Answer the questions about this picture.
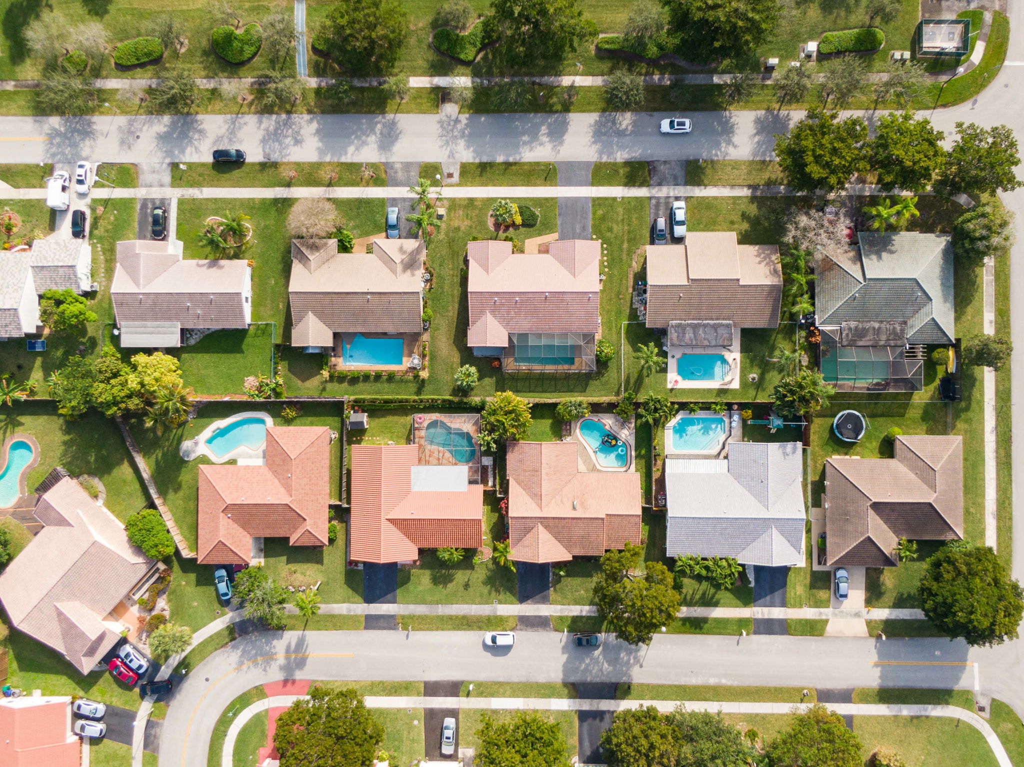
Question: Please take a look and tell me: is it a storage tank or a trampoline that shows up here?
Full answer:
Looking from above, you can make out a trampoline.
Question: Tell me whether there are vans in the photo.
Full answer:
Yes, a van can be made out from above.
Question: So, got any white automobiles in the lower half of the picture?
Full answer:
Yes, you'll find a white automobile in the lower half of the picture.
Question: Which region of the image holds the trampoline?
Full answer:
Look in the right portion of the view to spot the trampoline.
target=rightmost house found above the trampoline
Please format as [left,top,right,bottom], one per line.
[811,232,955,347]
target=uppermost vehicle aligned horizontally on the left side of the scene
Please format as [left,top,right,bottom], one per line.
[212,147,246,163]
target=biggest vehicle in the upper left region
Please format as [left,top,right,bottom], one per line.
[43,171,71,212]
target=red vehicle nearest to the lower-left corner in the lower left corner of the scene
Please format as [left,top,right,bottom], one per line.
[111,657,137,686]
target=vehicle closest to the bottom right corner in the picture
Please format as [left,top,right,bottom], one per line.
[833,568,850,601]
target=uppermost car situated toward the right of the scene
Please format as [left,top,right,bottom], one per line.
[660,117,692,133]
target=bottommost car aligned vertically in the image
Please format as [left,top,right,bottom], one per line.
[440,717,456,754]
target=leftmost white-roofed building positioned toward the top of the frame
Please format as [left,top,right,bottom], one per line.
[0,239,93,343]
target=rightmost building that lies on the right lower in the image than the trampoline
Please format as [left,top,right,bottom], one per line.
[821,435,963,567]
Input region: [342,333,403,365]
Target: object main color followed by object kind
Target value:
blue swimming pool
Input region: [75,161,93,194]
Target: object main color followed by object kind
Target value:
white car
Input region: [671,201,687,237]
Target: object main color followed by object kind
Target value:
white car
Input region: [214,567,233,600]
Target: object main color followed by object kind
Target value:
blue car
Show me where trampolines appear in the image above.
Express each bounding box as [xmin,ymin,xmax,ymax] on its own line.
[833,410,870,442]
